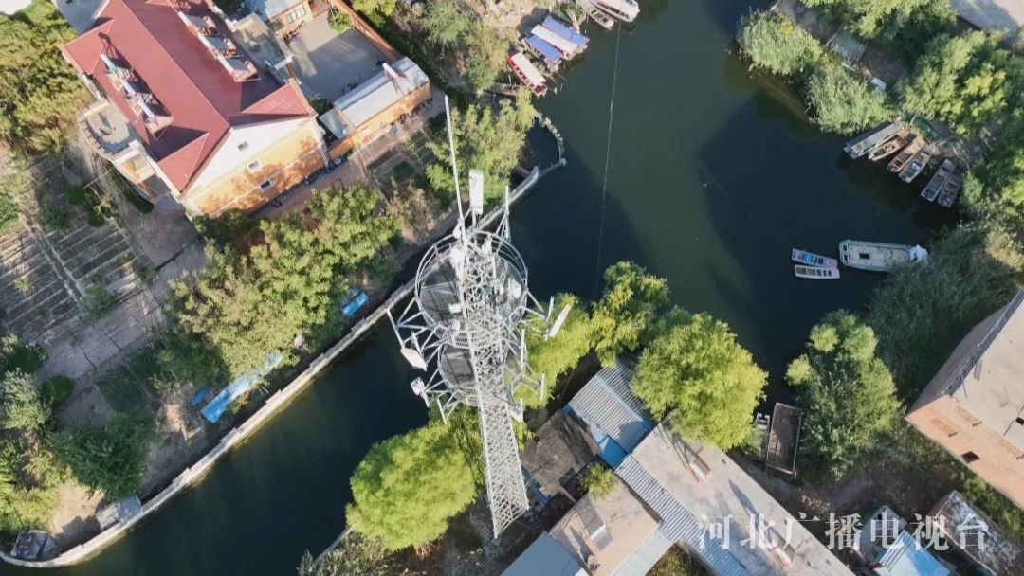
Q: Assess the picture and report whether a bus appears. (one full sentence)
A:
No, I can see no bus in this picture.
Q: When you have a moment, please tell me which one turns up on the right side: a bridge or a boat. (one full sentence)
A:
There is a boat on the right side.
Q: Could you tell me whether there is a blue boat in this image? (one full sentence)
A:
Yes, I can see a blue boat in this picture.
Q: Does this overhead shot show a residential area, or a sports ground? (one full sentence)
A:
This looks like a residential area.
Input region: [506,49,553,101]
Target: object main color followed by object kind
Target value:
white boat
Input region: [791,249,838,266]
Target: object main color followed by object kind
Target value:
blue boat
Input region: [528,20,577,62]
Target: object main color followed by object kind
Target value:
white boat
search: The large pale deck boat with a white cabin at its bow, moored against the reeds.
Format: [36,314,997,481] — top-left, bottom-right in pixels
[836,242,932,266]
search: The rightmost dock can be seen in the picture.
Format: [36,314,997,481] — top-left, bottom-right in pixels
[753,411,772,449]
